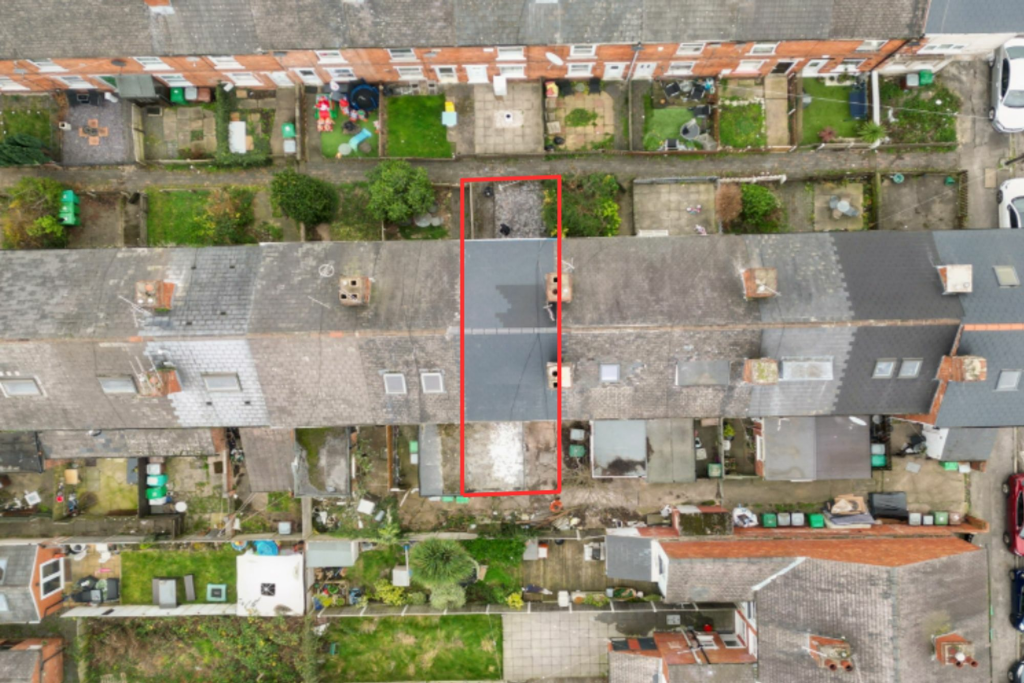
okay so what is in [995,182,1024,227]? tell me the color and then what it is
white car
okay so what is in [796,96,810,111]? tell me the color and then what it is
gray umbrella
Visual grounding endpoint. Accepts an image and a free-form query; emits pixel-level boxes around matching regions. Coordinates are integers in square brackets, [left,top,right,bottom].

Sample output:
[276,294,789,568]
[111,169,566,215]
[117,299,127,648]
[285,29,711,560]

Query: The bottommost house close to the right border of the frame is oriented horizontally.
[652,535,989,683]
